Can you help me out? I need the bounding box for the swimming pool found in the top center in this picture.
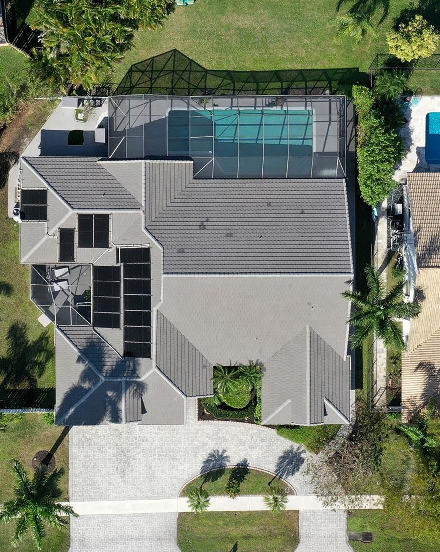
[169,110,312,176]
